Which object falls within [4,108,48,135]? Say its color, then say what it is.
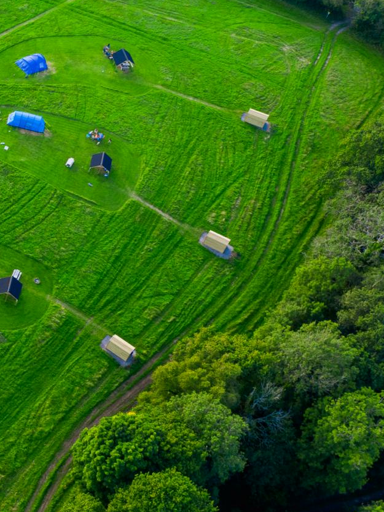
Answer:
blue tent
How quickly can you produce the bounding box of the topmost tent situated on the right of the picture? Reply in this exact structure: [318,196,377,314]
[239,113,269,135]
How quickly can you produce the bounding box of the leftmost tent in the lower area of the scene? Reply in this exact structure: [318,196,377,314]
[102,336,136,366]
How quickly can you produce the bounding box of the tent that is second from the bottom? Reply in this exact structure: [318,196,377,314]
[197,233,230,261]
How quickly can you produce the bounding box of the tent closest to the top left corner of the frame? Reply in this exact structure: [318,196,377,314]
[16,50,49,76]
